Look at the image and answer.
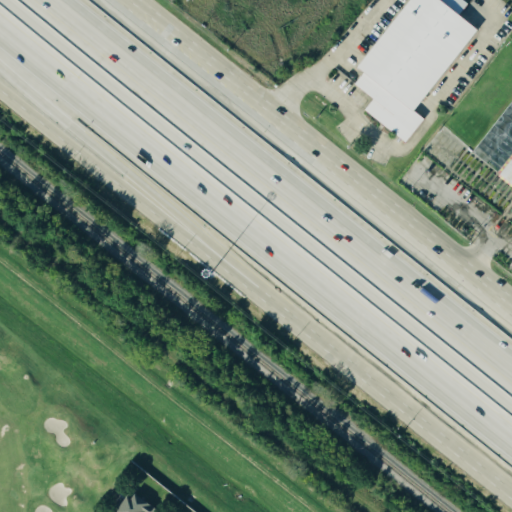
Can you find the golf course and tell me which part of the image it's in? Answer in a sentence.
The golf course sits in the bottom left section of the image.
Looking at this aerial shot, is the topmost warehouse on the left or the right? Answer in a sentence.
It is on the right.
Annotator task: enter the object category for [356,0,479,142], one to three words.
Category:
warehouse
